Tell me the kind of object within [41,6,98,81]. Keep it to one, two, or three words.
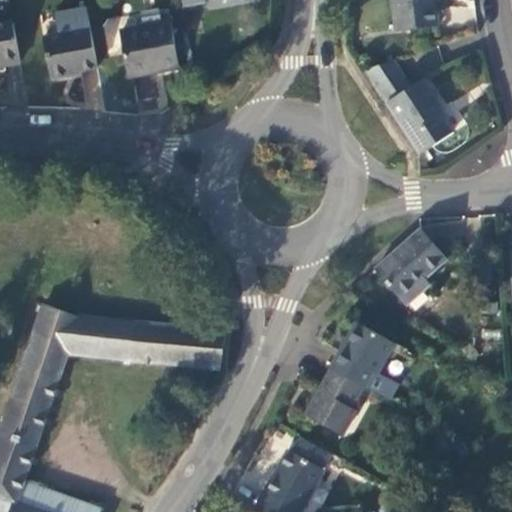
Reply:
house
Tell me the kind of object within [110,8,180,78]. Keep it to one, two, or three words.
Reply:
house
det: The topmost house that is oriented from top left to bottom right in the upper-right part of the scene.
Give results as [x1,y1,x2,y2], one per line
[368,52,453,158]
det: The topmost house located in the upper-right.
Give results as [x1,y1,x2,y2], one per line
[390,0,441,30]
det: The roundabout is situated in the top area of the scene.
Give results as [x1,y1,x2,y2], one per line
[199,97,369,267]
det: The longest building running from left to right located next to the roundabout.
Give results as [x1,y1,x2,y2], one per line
[53,312,224,372]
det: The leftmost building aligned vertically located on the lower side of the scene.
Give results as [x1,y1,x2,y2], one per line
[0,302,79,508]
